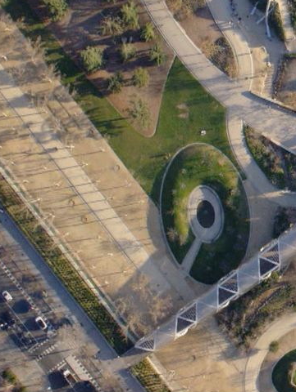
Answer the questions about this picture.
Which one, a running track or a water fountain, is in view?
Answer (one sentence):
There is a water fountain in the scene.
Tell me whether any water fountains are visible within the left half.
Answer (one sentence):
No, looking within the left half, there is no water fountain.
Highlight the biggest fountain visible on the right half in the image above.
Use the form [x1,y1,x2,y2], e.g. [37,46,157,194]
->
[187,185,224,243]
